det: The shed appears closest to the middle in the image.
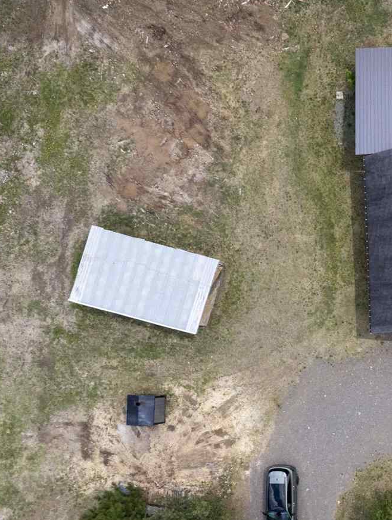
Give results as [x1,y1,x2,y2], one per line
[69,227,231,334]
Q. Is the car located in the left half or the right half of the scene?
right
